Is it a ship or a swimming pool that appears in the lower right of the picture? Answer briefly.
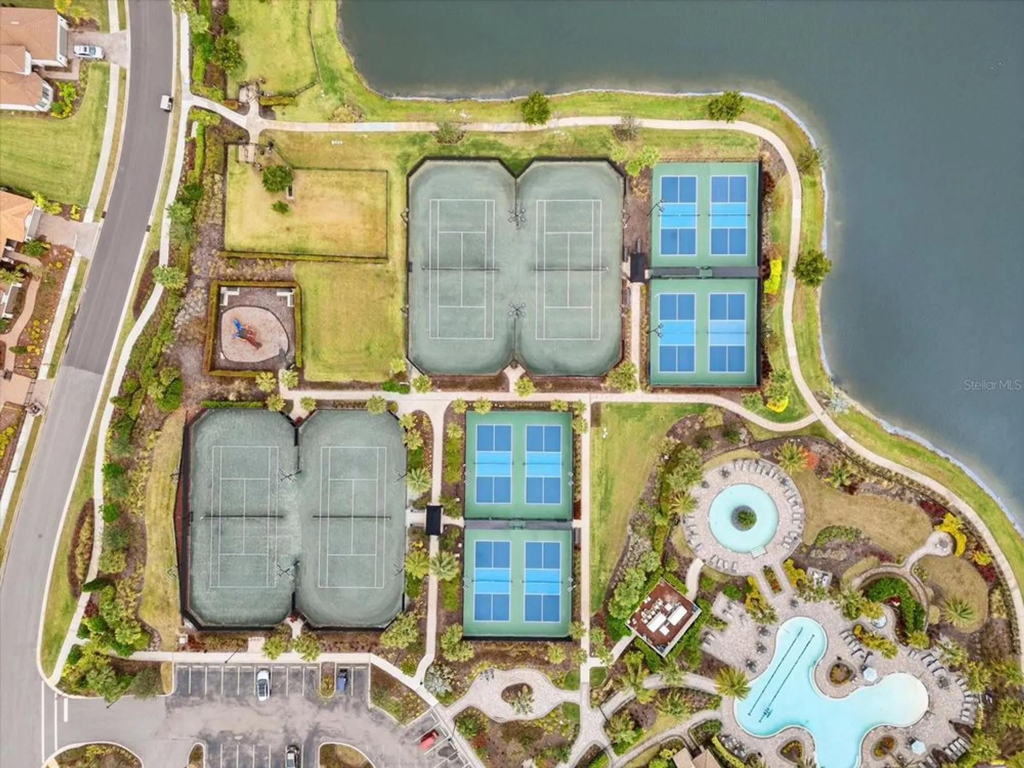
swimming pool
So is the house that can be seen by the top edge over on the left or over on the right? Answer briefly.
left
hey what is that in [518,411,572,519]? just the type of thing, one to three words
sports court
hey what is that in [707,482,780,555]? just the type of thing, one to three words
swimming pool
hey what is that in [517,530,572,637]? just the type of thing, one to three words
sports court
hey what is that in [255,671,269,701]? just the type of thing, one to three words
car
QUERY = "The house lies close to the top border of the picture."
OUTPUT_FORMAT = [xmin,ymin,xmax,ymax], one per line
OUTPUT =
[0,7,67,111]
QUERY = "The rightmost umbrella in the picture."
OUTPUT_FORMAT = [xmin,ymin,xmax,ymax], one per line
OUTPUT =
[908,737,925,753]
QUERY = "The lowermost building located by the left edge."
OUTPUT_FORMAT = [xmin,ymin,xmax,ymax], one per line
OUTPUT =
[0,186,37,264]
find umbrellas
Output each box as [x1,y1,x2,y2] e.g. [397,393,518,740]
[862,666,877,681]
[908,737,925,753]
